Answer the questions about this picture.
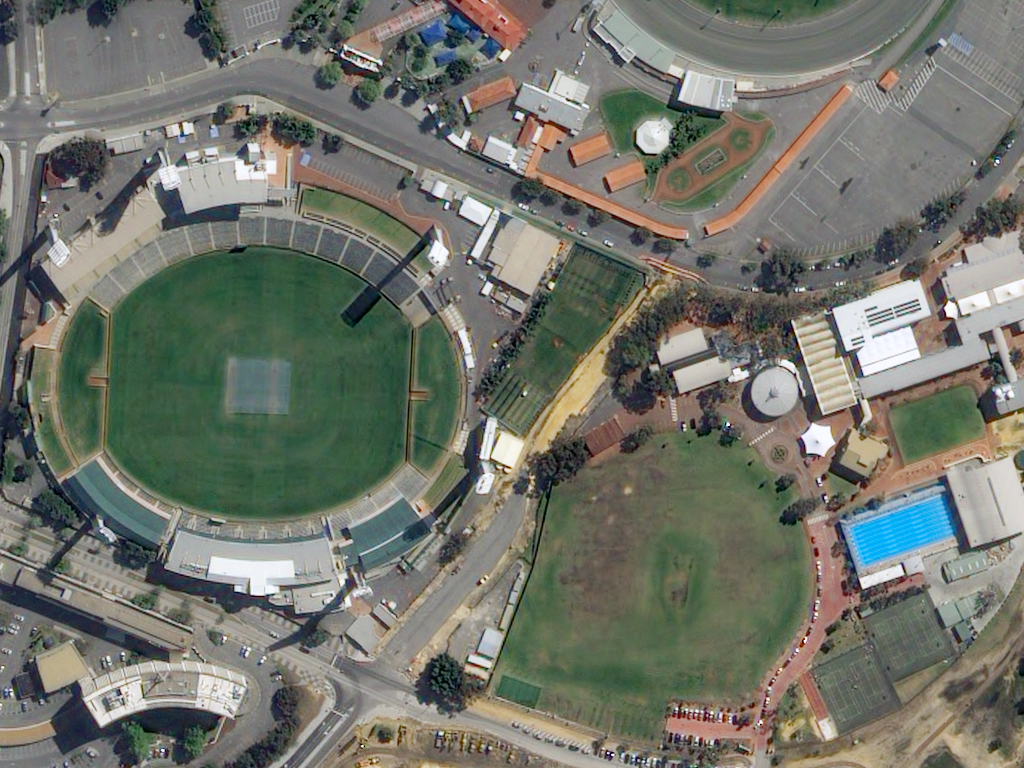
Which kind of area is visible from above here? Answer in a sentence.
This looks like a sports ground.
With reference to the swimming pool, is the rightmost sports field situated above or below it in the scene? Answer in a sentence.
The rightmost sports field is located above the swimming pool in this view.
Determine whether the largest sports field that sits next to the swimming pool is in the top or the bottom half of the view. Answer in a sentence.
The bottom half of the photo is where the largest sports field that sits next to the swimming pool is.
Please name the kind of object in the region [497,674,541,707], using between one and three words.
sports field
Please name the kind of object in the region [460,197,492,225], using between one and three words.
tent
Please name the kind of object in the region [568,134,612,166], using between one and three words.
shed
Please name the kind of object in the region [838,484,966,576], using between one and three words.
swimming pool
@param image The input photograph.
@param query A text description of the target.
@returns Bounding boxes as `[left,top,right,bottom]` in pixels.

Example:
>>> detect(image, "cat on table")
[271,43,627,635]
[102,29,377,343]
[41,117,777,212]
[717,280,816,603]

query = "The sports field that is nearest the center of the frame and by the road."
[481,243,645,436]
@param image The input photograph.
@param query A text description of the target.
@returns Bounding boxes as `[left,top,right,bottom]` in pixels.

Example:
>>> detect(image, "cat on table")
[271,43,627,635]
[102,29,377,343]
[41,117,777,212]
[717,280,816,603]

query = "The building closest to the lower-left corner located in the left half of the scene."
[0,718,56,746]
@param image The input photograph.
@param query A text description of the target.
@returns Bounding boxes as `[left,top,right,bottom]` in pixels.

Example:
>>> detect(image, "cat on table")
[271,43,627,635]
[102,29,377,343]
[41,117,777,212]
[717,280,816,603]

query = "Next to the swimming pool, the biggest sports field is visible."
[495,432,810,748]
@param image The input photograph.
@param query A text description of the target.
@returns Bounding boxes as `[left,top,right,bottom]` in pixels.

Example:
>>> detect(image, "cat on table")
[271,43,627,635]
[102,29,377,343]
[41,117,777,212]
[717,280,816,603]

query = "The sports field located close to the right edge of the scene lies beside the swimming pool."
[886,385,990,478]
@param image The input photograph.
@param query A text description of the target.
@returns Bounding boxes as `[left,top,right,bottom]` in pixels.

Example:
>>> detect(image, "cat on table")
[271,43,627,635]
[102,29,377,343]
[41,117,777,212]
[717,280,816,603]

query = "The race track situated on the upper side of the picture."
[610,0,931,74]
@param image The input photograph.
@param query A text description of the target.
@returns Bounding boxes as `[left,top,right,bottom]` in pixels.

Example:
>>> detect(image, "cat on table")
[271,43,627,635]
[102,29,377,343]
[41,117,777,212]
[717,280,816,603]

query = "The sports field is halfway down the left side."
[104,244,414,522]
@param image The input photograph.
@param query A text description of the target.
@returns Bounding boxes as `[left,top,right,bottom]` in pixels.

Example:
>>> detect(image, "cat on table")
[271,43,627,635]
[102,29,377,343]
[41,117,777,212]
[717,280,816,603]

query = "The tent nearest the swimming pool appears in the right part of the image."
[800,421,836,456]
